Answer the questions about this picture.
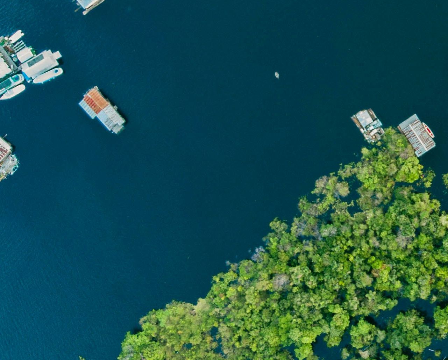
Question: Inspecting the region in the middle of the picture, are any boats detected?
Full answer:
No, the scene shows no boat in the middle of the picture.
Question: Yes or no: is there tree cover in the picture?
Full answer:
Yes, tree cover can be seen from above here.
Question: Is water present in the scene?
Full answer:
Yes, water shows up in the scene.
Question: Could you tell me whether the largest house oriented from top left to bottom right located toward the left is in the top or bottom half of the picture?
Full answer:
The largest house oriented from top left to bottom right located toward the left is in the top half of the image.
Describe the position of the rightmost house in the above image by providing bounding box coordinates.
[398,114,437,156]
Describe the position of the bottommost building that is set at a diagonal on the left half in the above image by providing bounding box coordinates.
[79,86,128,133]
